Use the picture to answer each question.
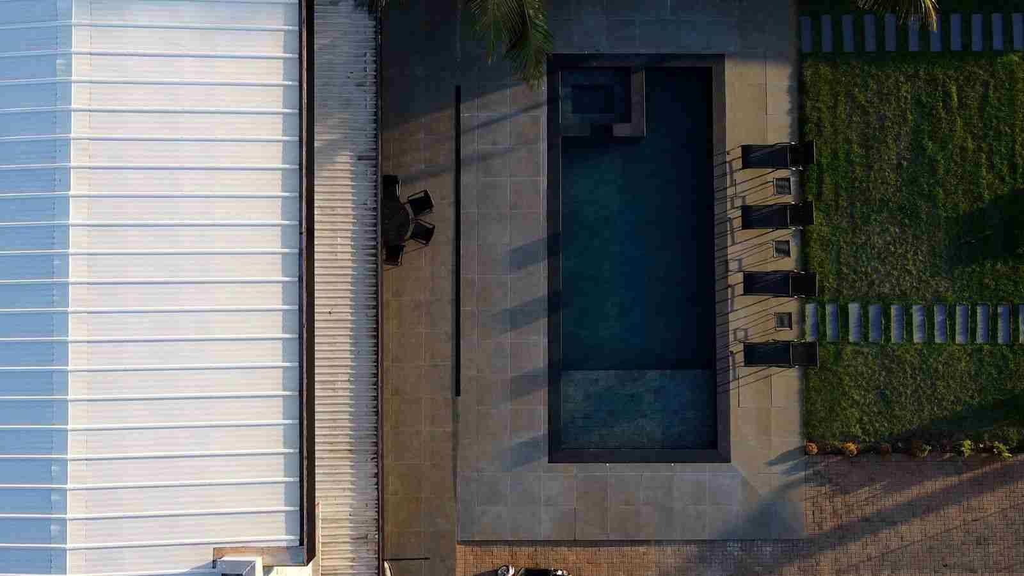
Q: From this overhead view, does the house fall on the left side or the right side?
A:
left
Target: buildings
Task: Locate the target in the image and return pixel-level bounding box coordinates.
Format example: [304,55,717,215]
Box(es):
[0,0,383,576]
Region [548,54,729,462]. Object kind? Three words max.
swimming pool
